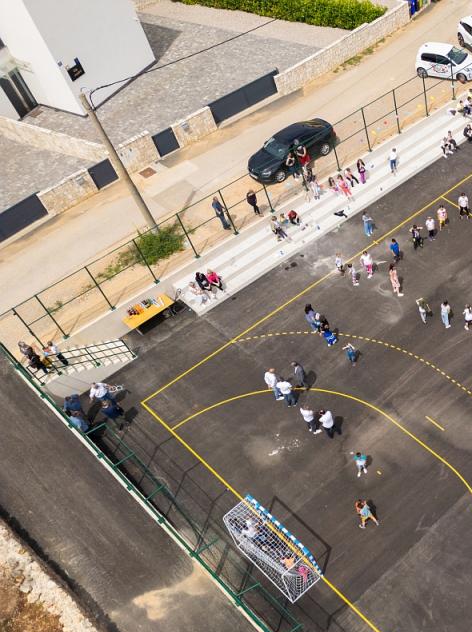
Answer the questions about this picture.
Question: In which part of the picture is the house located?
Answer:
top left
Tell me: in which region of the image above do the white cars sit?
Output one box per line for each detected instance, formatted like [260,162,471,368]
[452,12,472,51]
[409,40,472,83]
